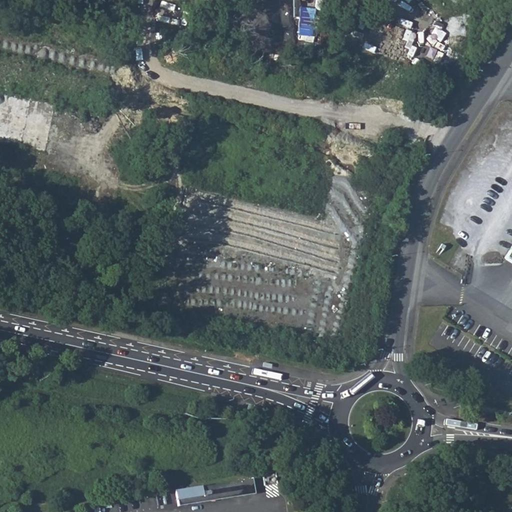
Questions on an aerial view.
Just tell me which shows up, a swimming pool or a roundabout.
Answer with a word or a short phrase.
roundabout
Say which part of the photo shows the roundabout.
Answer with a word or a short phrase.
bottom right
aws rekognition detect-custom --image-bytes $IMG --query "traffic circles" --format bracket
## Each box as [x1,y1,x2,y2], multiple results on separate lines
[330,372,431,472]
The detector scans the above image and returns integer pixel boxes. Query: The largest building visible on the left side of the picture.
[178,486,210,504]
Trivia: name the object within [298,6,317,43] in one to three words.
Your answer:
building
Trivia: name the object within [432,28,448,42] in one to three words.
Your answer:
camper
